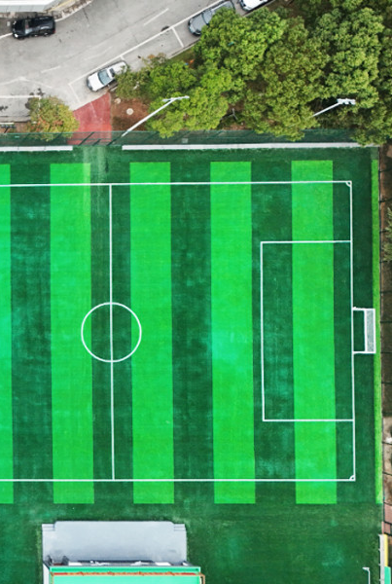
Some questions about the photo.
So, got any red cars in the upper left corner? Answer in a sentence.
No, no red car appears in the upper left corner.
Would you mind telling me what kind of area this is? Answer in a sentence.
The area seen from above is a sports ground.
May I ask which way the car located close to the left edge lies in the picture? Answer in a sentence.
In this picture, the car located close to the left edge lies horizontally.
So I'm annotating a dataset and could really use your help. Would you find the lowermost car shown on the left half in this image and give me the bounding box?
[83,58,131,94]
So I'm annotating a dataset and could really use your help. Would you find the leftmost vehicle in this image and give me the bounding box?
[9,15,57,40]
